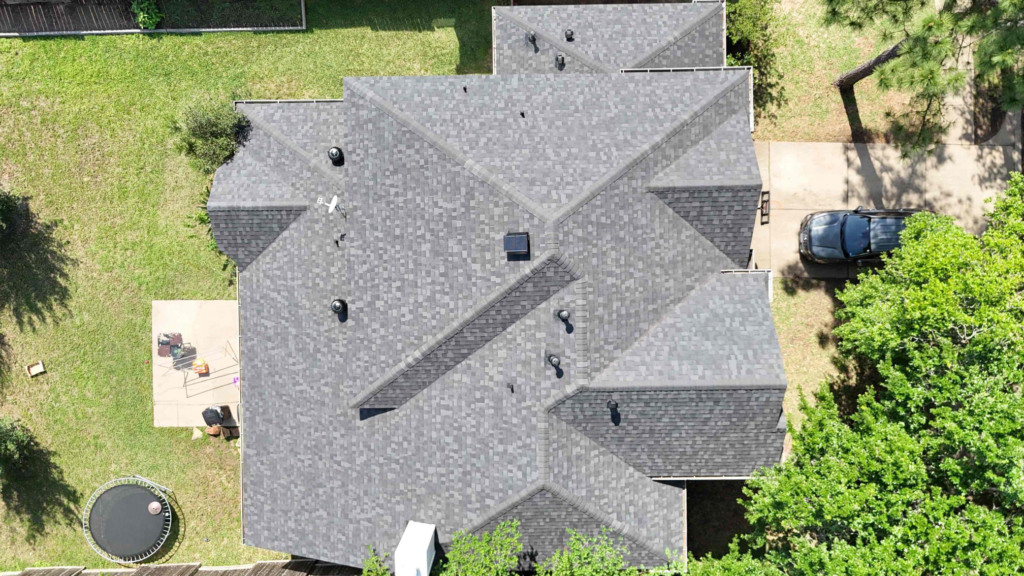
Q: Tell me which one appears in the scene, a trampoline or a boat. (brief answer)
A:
trampoline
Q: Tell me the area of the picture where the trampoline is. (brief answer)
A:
bottom left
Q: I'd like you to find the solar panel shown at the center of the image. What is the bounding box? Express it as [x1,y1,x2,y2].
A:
[503,234,528,253]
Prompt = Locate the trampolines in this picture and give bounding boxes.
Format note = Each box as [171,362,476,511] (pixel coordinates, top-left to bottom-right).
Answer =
[83,475,176,564]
